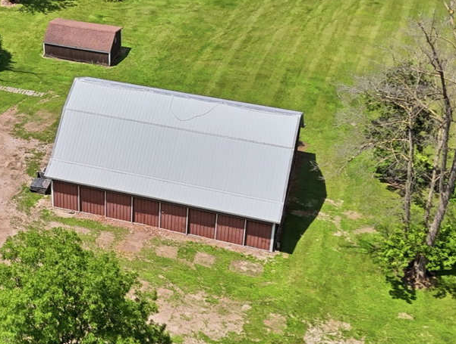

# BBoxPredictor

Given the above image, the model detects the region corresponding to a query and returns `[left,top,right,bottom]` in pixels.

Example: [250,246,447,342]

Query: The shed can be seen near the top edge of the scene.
[43,14,122,65]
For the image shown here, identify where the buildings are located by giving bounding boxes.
[43,14,122,65]
[41,71,307,251]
